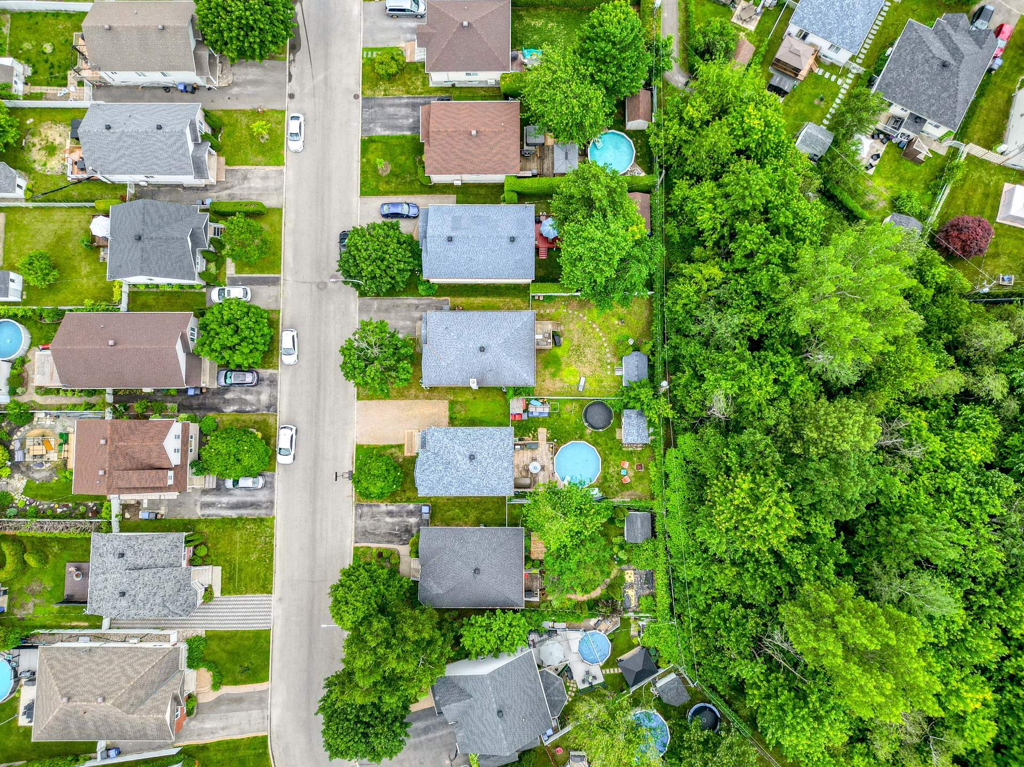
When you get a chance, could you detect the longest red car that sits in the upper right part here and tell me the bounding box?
[991,22,1018,61]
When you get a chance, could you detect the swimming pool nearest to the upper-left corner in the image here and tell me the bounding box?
[0,322,32,358]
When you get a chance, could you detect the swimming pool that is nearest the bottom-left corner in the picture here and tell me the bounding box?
[0,659,20,697]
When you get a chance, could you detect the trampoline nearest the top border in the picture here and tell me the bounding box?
[582,400,613,431]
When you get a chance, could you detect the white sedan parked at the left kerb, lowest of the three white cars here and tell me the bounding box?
[276,424,296,464]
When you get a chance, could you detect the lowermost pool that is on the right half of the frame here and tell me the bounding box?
[627,706,670,752]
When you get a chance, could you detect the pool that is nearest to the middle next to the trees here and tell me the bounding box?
[555,439,601,486]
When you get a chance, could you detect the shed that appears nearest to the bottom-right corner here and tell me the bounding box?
[655,670,691,708]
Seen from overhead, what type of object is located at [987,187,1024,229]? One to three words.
gazebo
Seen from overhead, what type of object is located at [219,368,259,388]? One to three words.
car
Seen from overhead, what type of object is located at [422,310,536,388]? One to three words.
house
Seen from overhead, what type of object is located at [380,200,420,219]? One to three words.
car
